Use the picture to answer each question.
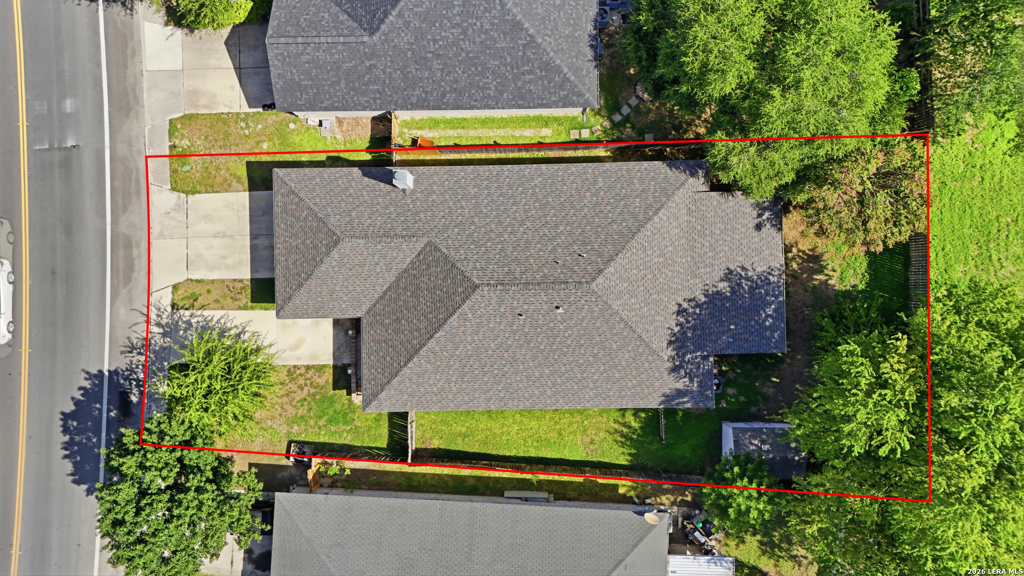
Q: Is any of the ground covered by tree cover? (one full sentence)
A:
Yes, there is tree cover in the image.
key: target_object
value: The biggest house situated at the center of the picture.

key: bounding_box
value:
[272,161,786,415]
